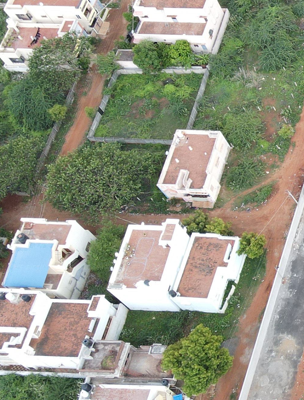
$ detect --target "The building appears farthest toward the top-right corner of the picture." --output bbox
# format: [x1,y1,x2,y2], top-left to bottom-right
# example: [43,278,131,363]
[135,0,227,53]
